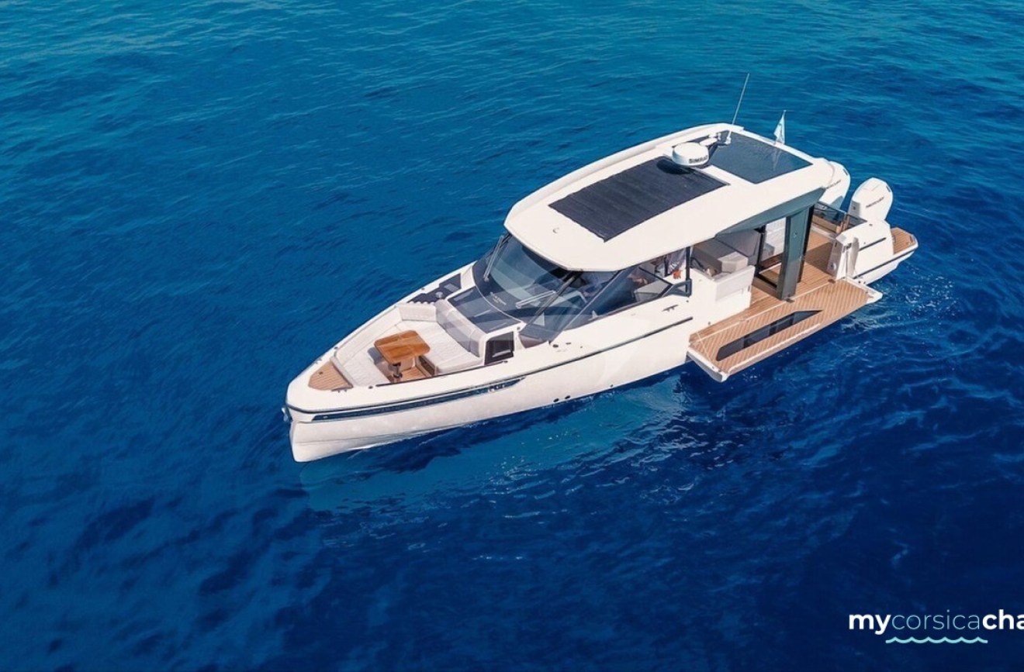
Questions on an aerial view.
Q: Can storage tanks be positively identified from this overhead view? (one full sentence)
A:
No, I find no storage tank anywhere in the image.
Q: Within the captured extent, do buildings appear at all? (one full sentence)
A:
No, there isn't any building down there.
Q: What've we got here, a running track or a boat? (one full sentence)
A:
There is a boat in the scene.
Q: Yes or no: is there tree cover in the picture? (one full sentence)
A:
No, no tree cover is visible.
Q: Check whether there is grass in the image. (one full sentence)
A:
No, the picture contains no grass.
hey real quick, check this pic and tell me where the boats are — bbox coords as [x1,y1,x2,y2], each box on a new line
[279,74,917,462]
